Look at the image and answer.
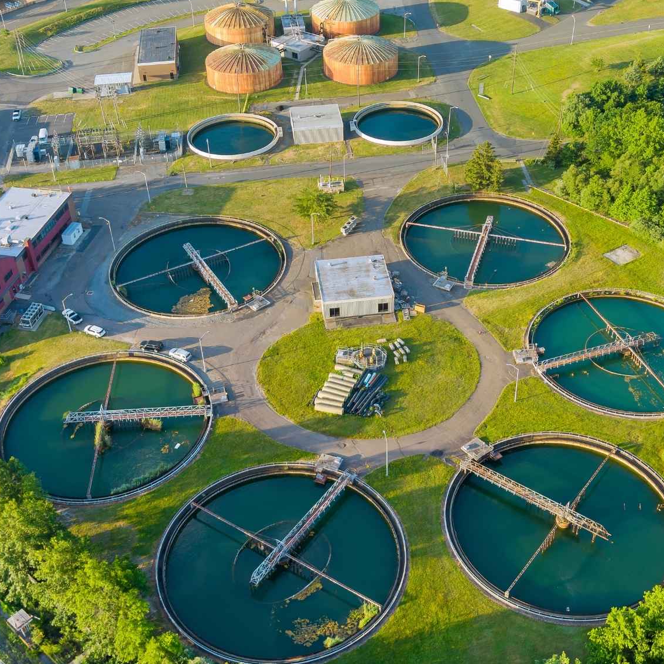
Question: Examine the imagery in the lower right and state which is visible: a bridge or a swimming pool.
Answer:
bridge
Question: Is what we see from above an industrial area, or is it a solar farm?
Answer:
industrial area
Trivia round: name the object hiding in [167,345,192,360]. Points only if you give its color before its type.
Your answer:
white car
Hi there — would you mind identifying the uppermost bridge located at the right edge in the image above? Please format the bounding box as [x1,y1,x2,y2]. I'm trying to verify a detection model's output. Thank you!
[528,331,657,380]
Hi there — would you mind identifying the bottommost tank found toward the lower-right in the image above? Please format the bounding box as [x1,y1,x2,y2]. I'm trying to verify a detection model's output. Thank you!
[443,428,664,627]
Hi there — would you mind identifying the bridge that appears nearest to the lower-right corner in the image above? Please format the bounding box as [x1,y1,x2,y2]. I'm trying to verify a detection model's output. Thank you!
[458,454,605,541]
